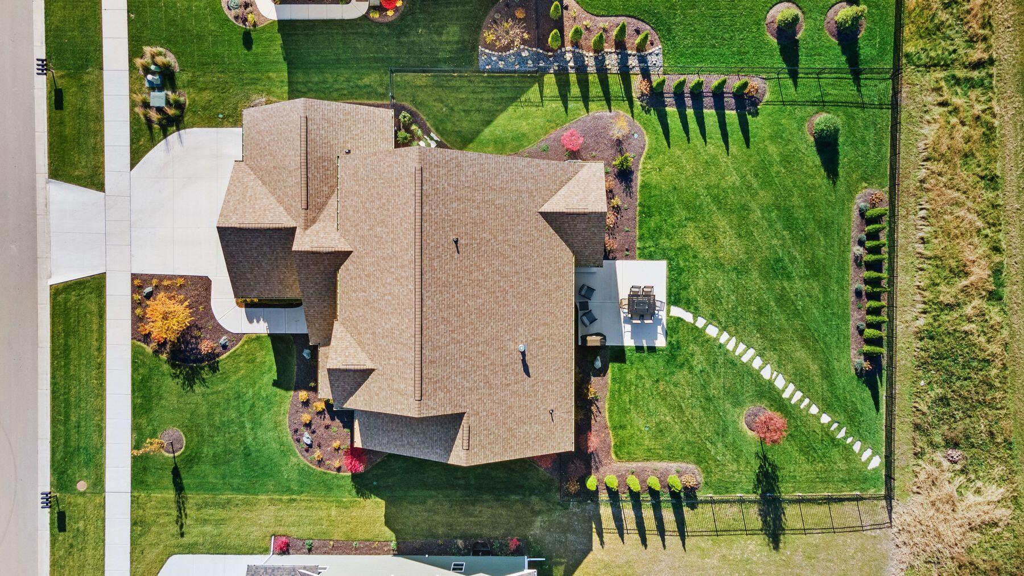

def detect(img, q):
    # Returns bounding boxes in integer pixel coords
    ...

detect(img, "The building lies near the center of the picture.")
[216,97,608,465]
